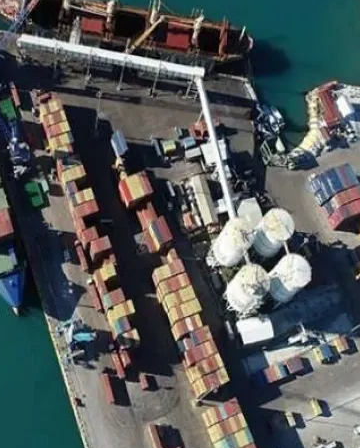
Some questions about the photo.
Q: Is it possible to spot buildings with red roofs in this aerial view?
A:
Yes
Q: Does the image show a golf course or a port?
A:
port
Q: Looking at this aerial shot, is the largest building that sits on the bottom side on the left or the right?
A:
right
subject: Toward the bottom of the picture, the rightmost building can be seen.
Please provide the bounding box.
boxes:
[258,279,358,342]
